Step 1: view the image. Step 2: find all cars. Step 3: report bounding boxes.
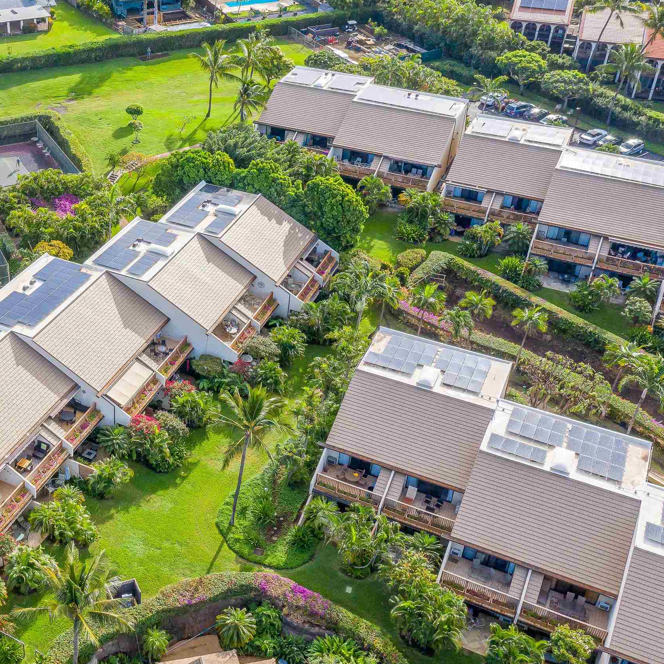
[576,129,607,144]
[479,92,504,104]
[594,135,625,150]
[539,114,567,124]
[521,107,550,121]
[615,137,645,154]
[504,99,533,116]
[484,98,511,112]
